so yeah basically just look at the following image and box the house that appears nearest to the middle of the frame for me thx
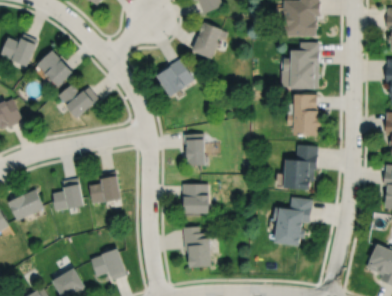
[184,132,206,166]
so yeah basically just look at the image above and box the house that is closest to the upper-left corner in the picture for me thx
[0,31,38,68]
